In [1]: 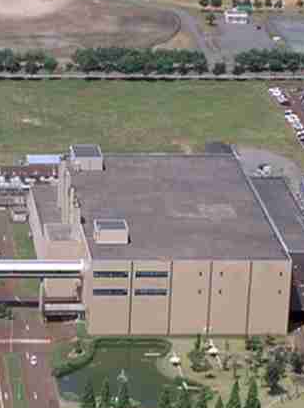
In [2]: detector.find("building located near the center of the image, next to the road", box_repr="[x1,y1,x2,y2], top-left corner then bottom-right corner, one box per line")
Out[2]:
[28,143,293,334]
